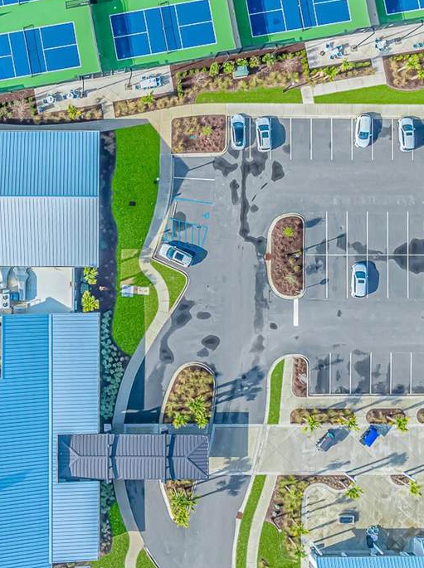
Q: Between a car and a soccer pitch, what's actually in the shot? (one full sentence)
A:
There is a car in the scene.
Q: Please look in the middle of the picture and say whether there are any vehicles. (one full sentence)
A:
Yes, a vehicle can be seen in the middle of the picture.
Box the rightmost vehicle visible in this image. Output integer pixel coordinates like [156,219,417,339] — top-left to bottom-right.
[397,117,417,152]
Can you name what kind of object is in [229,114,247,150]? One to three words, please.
car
